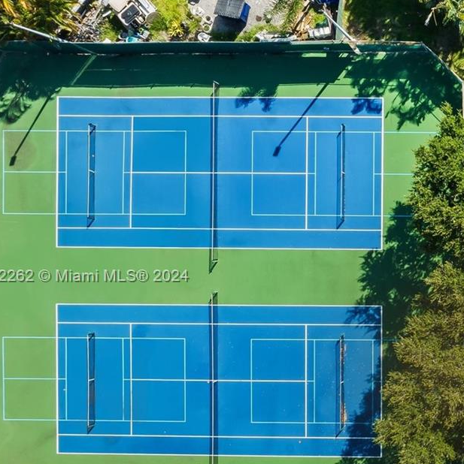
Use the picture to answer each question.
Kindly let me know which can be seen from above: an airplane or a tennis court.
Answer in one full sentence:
This aerial view contains a tennis court.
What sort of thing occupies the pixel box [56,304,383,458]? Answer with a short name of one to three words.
tennis court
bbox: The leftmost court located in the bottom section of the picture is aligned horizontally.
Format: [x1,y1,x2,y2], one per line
[2,337,187,422]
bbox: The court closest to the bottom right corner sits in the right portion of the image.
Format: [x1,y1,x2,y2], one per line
[249,338,433,424]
